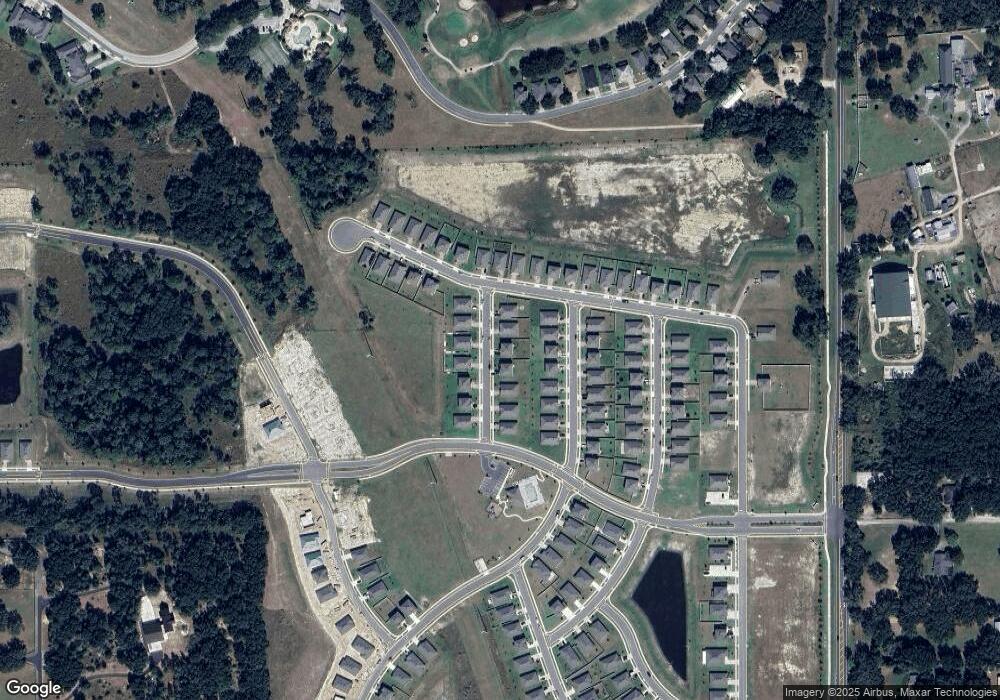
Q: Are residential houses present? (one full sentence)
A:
Yes, the photo shows a residential house.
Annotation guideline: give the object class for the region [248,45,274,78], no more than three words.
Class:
tennis court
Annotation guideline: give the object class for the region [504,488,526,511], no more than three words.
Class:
house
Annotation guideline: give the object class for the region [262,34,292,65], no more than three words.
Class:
tennis court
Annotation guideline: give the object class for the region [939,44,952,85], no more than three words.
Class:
building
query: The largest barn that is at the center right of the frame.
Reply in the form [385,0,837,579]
[874,272,912,319]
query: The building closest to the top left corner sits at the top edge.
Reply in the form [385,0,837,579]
[9,0,50,40]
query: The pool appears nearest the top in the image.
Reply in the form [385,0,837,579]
[286,18,321,59]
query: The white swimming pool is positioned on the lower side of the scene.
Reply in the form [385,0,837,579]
[520,476,545,509]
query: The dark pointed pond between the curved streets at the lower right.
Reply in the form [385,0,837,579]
[633,550,687,679]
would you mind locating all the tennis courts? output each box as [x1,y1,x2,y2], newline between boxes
[248,45,274,78]
[262,34,292,65]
